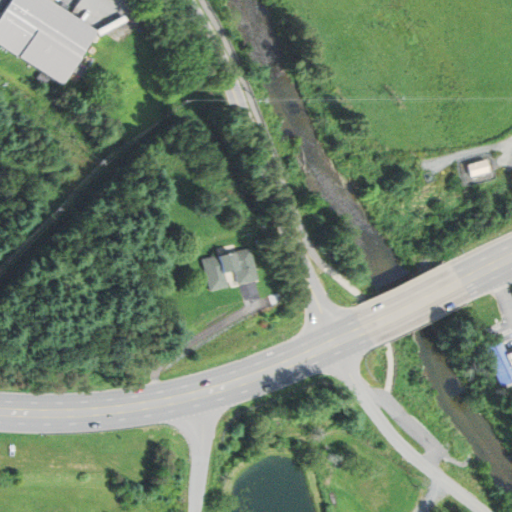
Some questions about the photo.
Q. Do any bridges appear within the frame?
Yes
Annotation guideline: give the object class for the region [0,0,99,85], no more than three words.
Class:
building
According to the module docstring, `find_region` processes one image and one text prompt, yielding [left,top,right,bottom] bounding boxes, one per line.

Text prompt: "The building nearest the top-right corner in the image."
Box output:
[468,159,493,178]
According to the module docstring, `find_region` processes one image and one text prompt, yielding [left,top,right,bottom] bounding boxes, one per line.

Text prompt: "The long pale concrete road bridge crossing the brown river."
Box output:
[352,264,468,350]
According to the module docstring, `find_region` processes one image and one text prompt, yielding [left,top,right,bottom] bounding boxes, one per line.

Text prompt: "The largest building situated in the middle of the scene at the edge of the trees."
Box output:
[202,248,260,292]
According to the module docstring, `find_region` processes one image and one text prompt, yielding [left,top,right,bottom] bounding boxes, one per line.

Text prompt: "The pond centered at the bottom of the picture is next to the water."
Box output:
[232,455,316,512]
